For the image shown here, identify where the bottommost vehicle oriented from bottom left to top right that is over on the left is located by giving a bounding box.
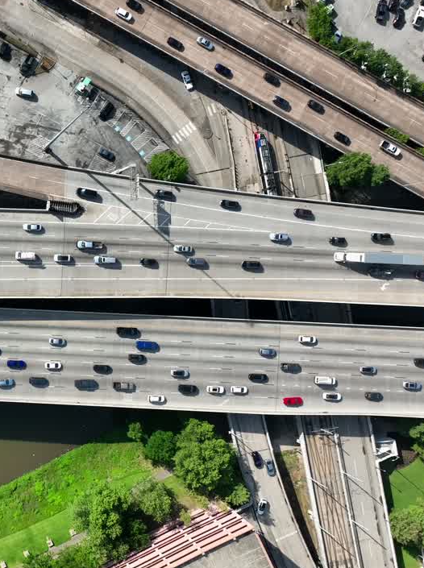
[101,102,114,119]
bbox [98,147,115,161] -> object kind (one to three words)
car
